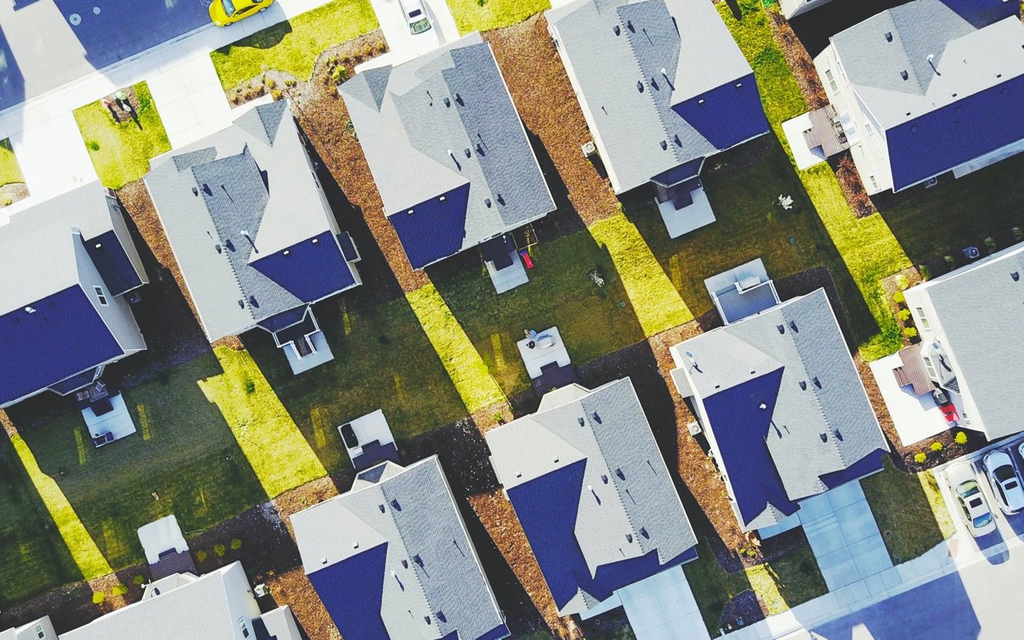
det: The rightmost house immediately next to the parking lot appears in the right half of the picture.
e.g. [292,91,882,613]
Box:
[903,243,1024,442]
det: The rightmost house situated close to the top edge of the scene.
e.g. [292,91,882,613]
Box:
[814,0,1024,195]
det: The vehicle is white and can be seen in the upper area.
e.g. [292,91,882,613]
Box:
[400,0,447,51]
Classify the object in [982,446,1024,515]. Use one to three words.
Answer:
car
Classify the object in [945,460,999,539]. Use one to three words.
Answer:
car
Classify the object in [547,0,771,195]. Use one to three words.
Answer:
house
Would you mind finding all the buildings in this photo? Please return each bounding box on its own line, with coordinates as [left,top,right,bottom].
[291,448,514,640]
[0,176,148,410]
[57,561,308,640]
[780,0,833,18]
[142,100,361,344]
[903,243,1024,442]
[667,285,891,529]
[483,375,699,616]
[547,0,771,195]
[0,615,57,640]
[814,0,1024,195]
[338,30,556,271]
